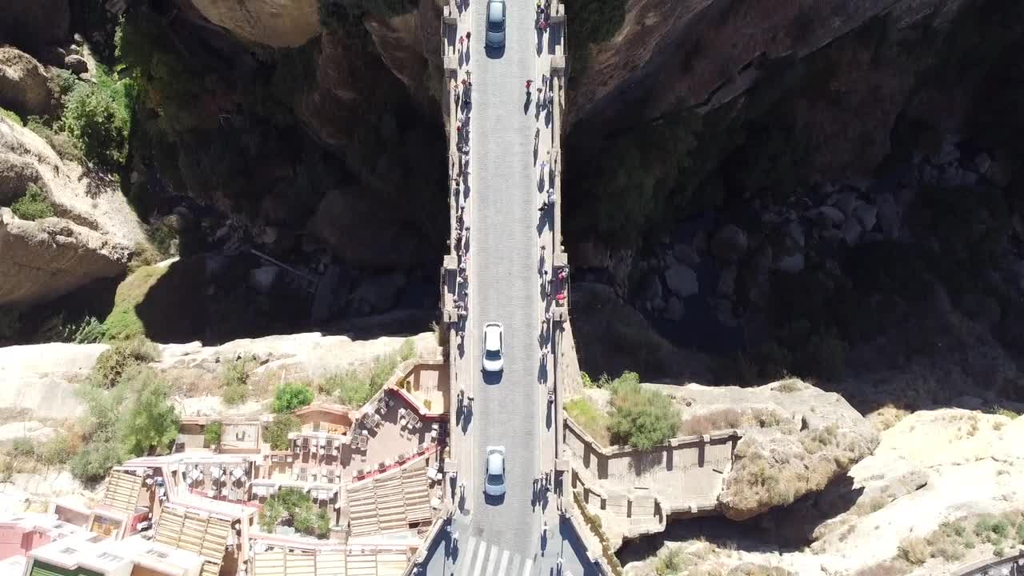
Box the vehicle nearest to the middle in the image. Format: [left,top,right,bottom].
[480,323,506,371]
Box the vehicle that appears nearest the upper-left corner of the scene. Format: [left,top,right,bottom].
[483,0,508,48]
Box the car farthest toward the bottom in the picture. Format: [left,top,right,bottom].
[482,446,507,495]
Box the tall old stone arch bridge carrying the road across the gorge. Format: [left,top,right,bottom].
[439,0,585,524]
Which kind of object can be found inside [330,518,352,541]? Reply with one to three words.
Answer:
shed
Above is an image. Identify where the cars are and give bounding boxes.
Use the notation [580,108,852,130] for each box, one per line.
[483,0,508,48]
[482,446,507,495]
[480,323,506,371]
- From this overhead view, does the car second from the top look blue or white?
white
